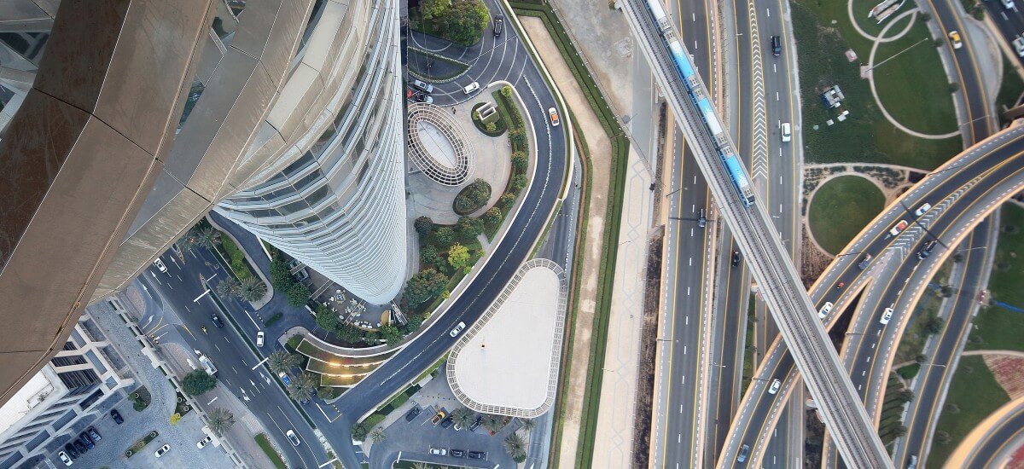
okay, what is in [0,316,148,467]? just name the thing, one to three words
building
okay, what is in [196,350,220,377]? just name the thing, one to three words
truck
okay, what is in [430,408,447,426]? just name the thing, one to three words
car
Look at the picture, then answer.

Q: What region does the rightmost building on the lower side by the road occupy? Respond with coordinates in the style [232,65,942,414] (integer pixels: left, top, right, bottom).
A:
[446,258,567,417]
